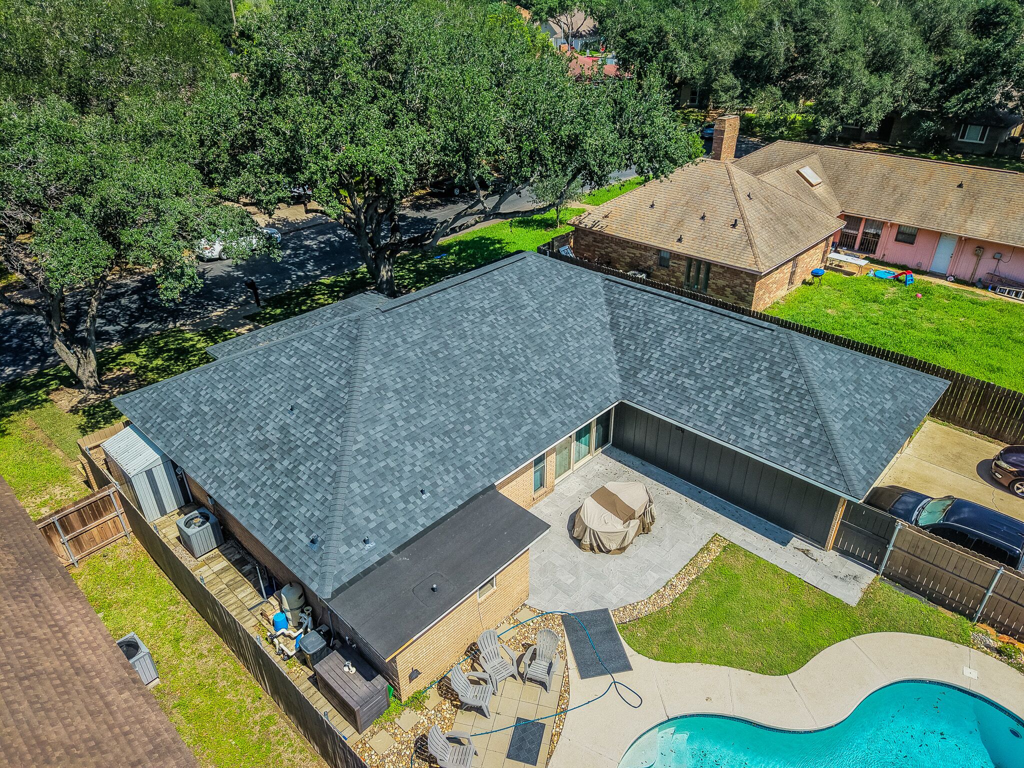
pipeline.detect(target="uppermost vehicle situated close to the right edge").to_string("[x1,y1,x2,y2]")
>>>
[988,439,1024,494]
